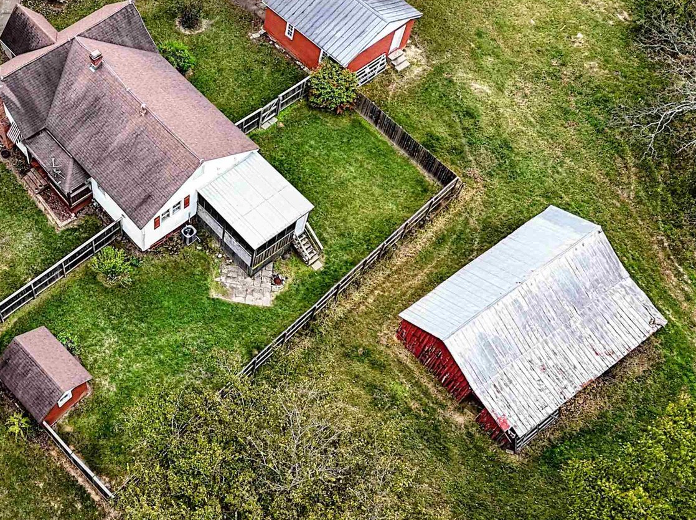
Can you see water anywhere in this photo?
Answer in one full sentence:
No, water can't be seen anywhere here.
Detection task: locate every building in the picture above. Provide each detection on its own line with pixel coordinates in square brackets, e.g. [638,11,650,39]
[0,328,91,423]
[398,207,669,455]
[263,0,420,81]
[0,0,323,277]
